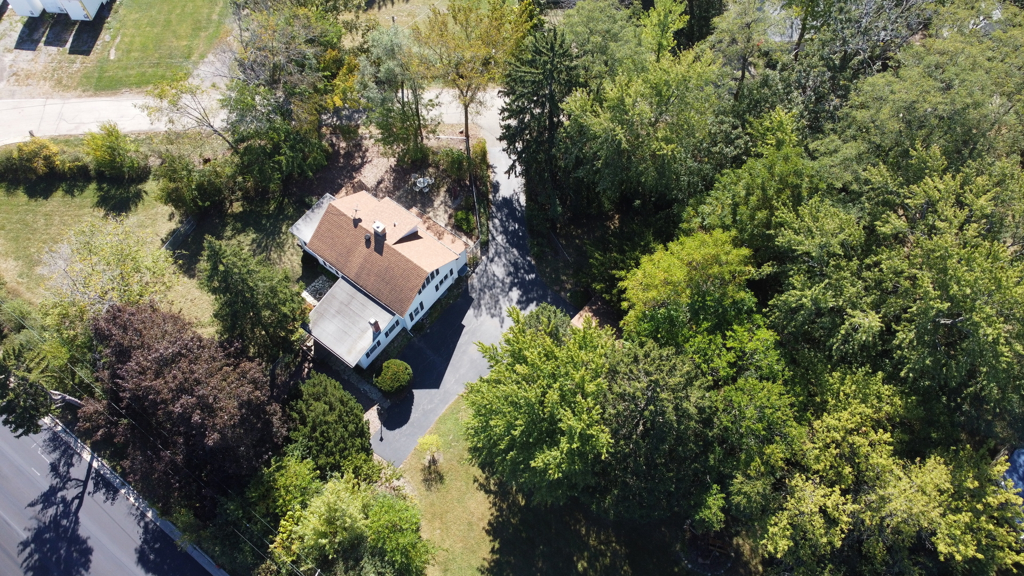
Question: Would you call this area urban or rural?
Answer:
rural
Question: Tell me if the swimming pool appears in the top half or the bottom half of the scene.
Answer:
bottom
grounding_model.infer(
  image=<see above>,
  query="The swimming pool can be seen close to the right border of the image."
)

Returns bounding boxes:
[1004,441,1024,499]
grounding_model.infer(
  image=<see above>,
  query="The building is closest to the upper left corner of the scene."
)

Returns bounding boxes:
[286,191,472,370]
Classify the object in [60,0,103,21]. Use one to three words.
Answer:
trailer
